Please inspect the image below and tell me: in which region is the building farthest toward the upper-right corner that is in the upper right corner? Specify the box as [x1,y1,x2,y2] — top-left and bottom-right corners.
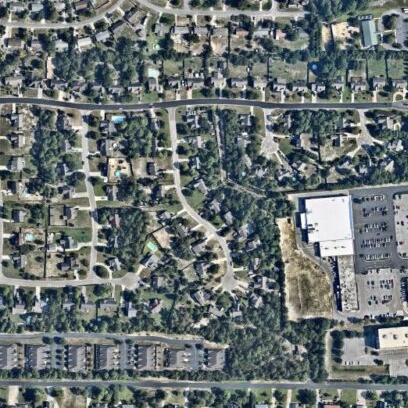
[363,19,378,46]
